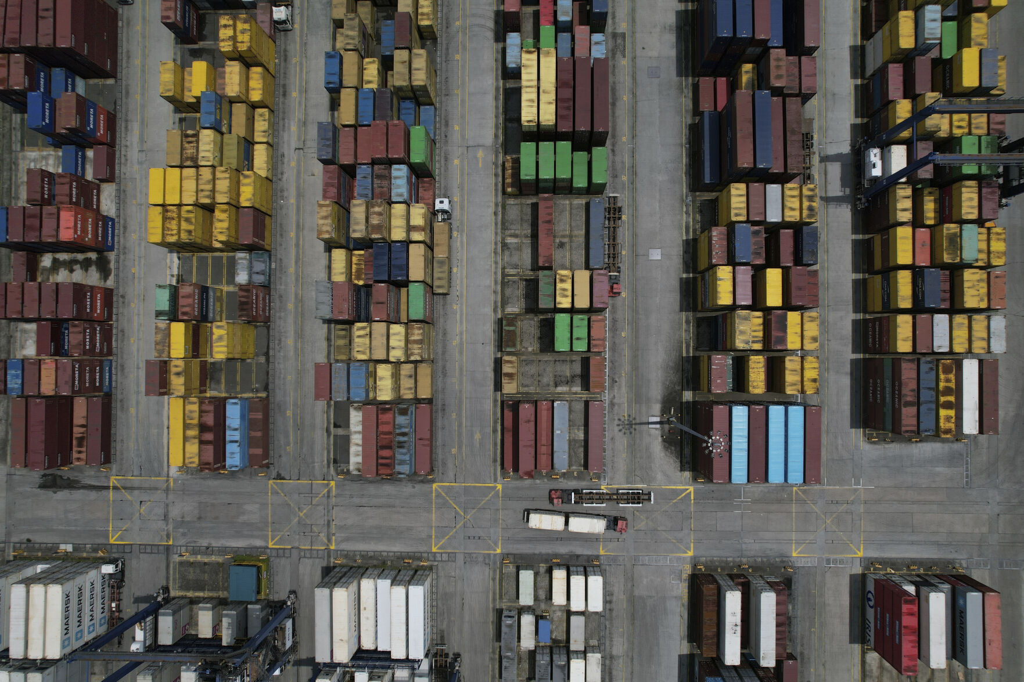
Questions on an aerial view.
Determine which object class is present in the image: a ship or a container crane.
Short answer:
container crane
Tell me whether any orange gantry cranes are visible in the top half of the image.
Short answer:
No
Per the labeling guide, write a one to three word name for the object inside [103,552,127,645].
truck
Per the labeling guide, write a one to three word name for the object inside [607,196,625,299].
vehicle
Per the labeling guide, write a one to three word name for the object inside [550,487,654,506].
vehicle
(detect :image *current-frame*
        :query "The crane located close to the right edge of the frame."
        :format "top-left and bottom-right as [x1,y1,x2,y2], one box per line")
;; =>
[861,96,1024,212]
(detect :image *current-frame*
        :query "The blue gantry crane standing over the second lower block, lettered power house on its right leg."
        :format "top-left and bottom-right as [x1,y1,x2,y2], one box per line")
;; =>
[75,589,296,682]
